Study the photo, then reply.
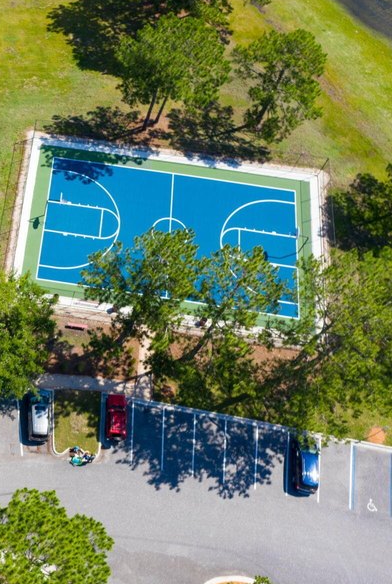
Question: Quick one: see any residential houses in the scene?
No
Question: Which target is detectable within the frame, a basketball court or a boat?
basketball court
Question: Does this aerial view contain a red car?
Yes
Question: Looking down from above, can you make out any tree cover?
Yes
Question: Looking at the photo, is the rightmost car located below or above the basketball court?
below it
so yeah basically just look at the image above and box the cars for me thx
[294,441,324,500]
[28,392,55,446]
[105,395,130,446]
